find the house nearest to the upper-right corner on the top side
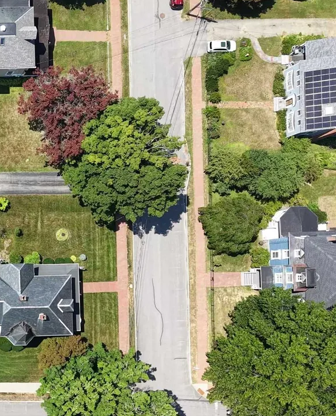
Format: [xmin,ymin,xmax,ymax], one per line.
[272,38,336,137]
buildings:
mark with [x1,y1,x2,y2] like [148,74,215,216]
[0,0,51,79]
[0,260,83,346]
[240,205,336,317]
[272,38,336,137]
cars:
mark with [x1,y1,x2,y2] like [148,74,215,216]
[169,0,184,12]
[206,39,236,54]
